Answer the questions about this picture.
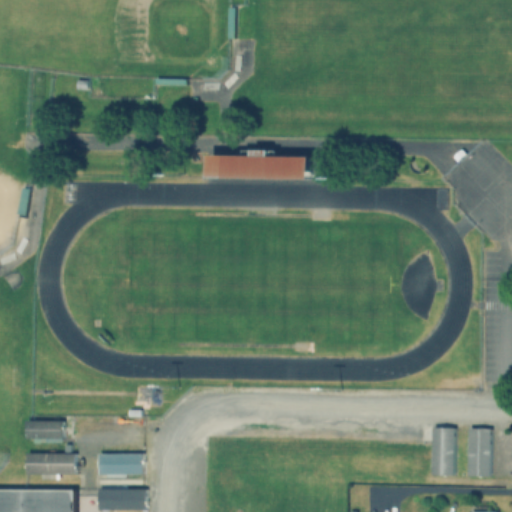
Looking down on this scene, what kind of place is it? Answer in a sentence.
What you see here is a sports ground.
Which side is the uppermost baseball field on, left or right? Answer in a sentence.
The uppermost baseball field appears in the left half of the scene.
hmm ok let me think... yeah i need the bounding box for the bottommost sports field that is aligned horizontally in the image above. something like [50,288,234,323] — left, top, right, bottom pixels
[62,207,450,358]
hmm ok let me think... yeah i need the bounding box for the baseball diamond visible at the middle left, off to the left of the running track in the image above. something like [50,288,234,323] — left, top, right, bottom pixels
[0,174,25,264]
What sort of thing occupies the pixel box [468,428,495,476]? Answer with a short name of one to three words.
building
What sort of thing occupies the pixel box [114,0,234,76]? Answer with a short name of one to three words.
baseball field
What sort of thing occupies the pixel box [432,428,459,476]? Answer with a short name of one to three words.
building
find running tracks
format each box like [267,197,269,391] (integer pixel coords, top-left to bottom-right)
[37,182,474,383]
